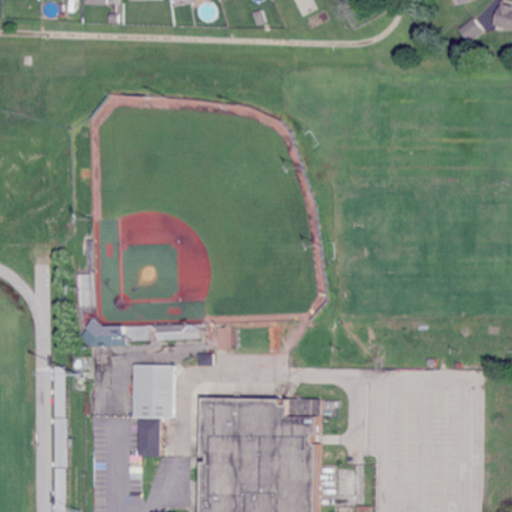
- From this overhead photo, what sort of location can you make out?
sports ground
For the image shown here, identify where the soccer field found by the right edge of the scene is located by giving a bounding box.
[338,76,512,315]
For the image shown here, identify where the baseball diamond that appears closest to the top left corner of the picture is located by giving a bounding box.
[91,96,326,328]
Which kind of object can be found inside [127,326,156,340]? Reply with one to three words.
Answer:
building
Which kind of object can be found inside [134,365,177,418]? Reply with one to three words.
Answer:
building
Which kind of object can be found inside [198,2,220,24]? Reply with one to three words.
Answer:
swimming pool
